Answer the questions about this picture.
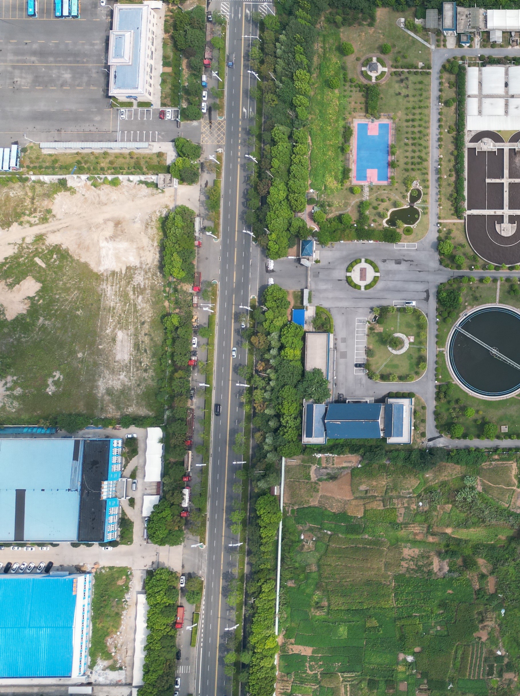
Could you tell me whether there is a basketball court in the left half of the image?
No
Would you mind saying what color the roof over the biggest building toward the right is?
blue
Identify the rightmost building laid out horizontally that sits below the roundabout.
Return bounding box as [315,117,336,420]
[303,398,414,443]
